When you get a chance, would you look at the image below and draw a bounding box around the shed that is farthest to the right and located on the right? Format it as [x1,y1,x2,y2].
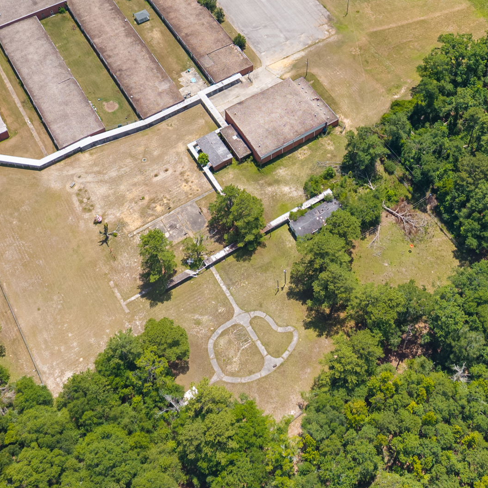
[289,198,345,241]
